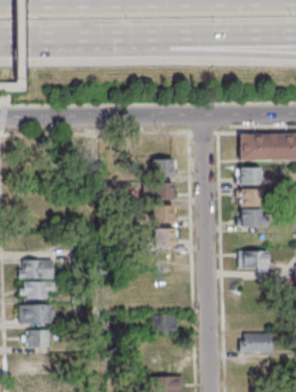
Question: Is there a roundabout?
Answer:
No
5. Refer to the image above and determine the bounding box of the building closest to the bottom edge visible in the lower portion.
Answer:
[154,376,184,392]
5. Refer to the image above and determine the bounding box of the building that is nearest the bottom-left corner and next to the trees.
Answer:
[20,330,50,350]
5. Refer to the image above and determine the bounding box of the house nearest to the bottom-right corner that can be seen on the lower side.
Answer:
[238,333,273,354]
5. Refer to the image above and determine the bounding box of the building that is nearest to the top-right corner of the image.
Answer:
[238,134,296,160]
